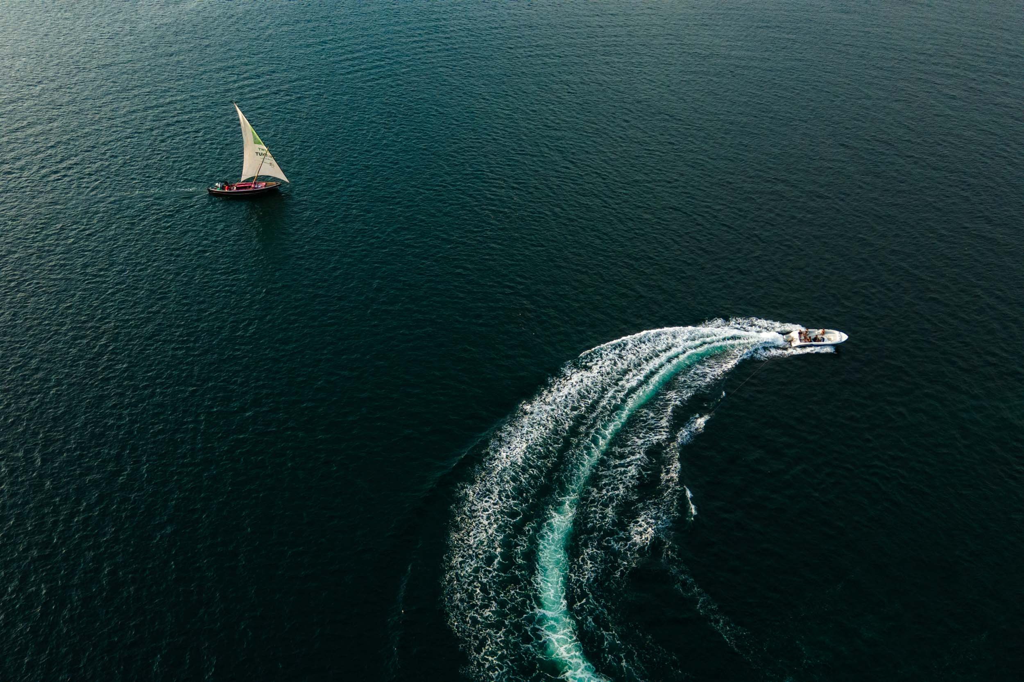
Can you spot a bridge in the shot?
No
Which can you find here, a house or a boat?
boat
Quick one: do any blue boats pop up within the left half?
No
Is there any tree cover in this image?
No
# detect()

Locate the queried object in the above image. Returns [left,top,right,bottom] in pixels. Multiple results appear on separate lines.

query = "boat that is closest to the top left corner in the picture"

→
[206,100,290,196]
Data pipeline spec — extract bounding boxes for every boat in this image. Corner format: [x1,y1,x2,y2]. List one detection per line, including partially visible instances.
[206,100,290,196]
[783,328,850,347]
